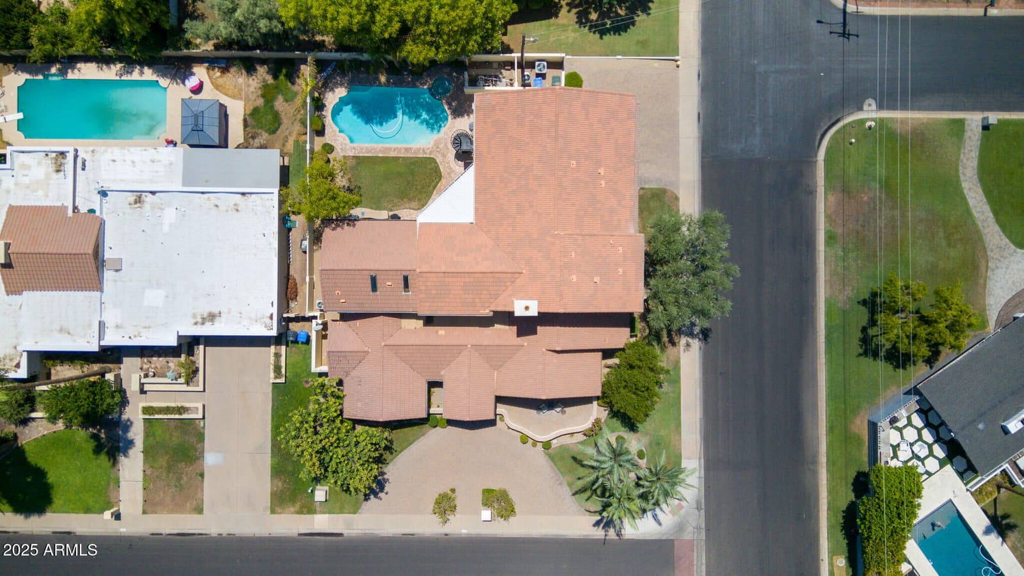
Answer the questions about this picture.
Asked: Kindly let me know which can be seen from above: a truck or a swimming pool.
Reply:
swimming pool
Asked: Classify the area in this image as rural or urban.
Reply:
urban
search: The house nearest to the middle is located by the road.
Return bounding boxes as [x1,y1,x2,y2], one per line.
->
[319,86,645,423]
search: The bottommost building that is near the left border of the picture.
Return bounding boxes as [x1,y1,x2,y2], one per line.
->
[0,147,287,377]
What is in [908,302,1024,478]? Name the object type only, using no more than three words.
house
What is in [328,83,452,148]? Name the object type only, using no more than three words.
swimming pool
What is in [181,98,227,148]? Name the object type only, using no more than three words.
gazebo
